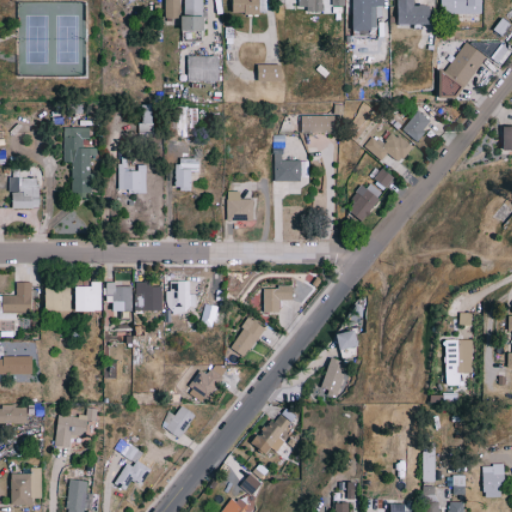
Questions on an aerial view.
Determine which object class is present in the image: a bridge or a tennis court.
tennis court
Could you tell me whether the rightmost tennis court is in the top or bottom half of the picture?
top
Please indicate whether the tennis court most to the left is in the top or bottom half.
top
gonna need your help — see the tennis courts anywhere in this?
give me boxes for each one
[18,2,52,75]
[52,2,86,75]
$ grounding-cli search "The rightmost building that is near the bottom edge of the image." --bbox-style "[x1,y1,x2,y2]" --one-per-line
[482,464,506,498]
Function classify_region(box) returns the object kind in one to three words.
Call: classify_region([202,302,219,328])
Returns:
building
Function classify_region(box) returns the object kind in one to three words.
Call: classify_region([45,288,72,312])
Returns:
house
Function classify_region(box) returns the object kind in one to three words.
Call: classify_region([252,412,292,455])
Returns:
house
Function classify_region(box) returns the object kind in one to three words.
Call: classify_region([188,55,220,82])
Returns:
building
